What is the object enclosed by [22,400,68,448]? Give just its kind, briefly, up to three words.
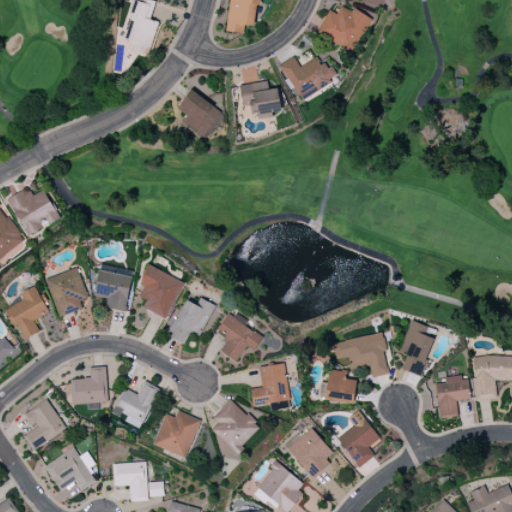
house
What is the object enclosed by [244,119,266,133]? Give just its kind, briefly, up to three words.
swimming pool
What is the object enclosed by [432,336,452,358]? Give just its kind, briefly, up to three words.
swimming pool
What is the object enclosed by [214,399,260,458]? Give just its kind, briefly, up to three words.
house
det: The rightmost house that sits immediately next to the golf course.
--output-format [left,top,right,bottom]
[473,356,512,401]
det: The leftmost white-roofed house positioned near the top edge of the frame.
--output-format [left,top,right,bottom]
[126,0,159,55]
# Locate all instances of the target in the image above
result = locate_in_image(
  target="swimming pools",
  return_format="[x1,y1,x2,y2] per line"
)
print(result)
[52,250,75,268]
[7,282,19,298]
[290,383,302,406]
[254,460,268,482]
[96,240,126,262]
[325,414,349,430]
[114,44,125,71]
[432,336,452,358]
[474,340,495,350]
[244,119,266,133]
